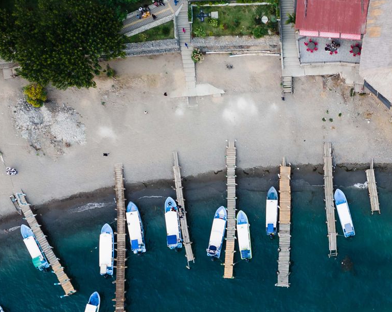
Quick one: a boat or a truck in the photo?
boat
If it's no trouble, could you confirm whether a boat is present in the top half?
No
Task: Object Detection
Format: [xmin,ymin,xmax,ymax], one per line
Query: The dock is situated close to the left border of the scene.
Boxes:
[15,193,75,298]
